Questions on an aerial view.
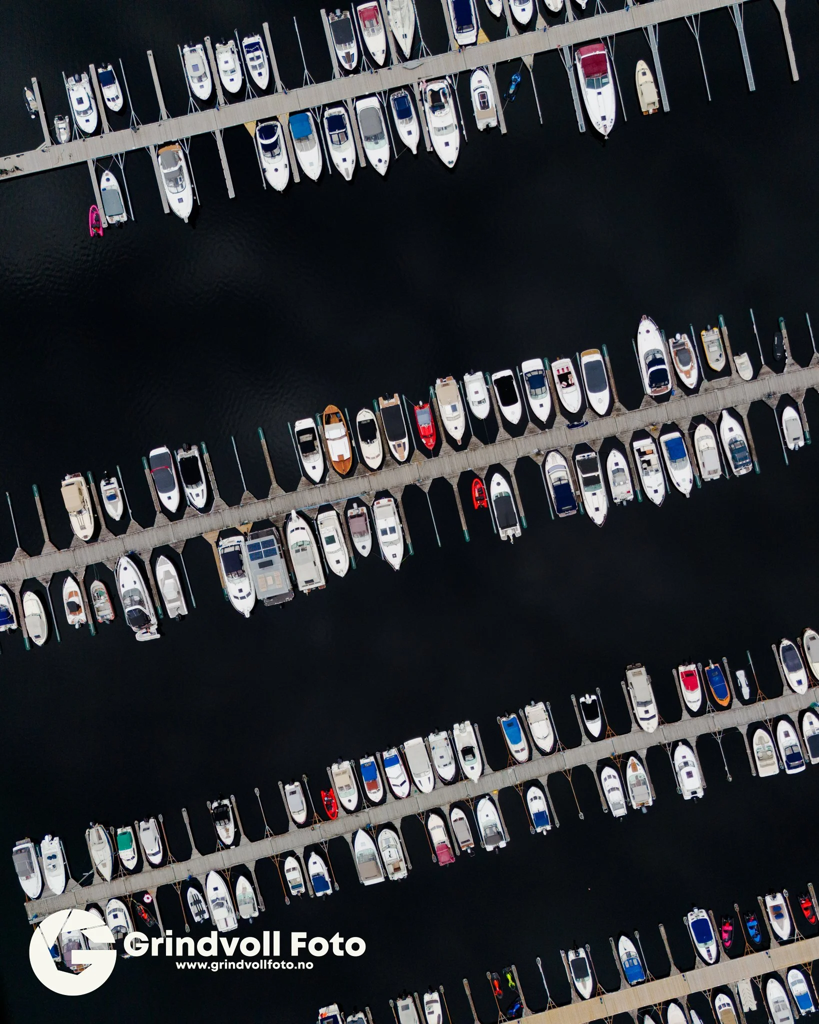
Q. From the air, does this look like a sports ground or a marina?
marina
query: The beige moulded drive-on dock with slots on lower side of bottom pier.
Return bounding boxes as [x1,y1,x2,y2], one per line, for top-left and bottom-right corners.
[738,978,757,1011]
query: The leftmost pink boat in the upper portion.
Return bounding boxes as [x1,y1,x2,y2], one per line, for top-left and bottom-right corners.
[88,205,103,237]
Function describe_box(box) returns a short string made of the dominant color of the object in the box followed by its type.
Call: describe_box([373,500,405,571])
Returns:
white boat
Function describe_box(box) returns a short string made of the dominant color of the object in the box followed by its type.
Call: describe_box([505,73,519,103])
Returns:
blue boat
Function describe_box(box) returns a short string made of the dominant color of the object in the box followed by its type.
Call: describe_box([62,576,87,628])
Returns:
white boat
